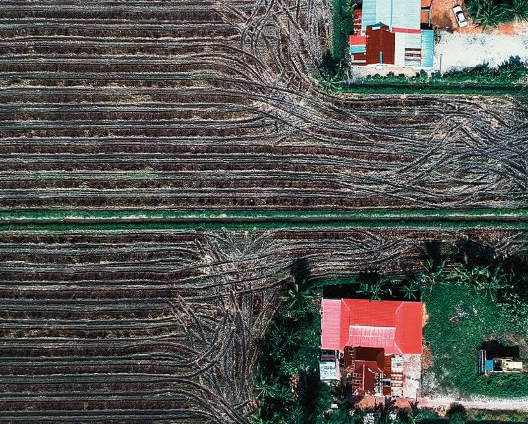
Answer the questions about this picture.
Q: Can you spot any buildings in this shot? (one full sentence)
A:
Yes, there is a building in the image.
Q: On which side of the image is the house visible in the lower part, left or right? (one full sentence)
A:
The house visible in the lower part sits on the right side.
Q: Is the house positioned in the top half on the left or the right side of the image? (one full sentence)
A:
The house positioned in the top half is on the right side of the image.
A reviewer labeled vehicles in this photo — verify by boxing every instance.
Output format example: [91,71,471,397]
[453,5,467,27]
[476,349,522,376]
